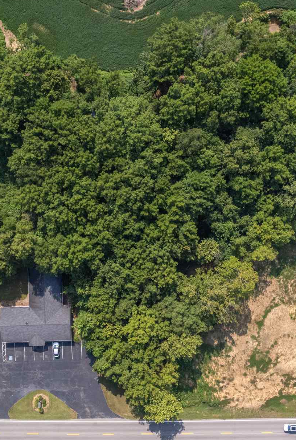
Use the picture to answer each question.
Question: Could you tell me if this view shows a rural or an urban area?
rural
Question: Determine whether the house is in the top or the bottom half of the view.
bottom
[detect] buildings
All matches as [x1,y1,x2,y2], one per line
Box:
[0,257,74,346]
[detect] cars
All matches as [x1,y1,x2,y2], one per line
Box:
[53,342,61,358]
[284,424,296,432]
